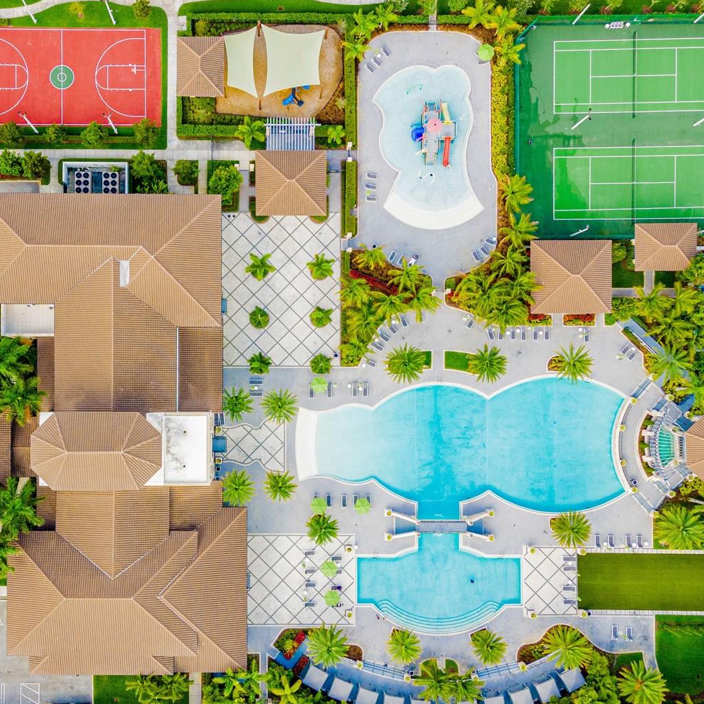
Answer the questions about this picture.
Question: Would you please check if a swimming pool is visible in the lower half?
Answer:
Yes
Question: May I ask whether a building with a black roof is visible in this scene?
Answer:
No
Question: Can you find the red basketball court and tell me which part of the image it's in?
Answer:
top left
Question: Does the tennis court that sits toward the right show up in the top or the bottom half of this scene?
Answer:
top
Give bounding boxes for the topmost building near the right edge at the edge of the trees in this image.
[626,222,699,272]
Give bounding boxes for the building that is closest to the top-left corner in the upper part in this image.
[175,35,226,101]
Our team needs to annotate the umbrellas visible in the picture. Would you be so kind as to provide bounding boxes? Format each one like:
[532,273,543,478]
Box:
[475,45,494,62]
[353,496,370,513]
[310,496,327,512]
[310,376,327,394]
[320,558,337,576]
[323,588,341,605]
